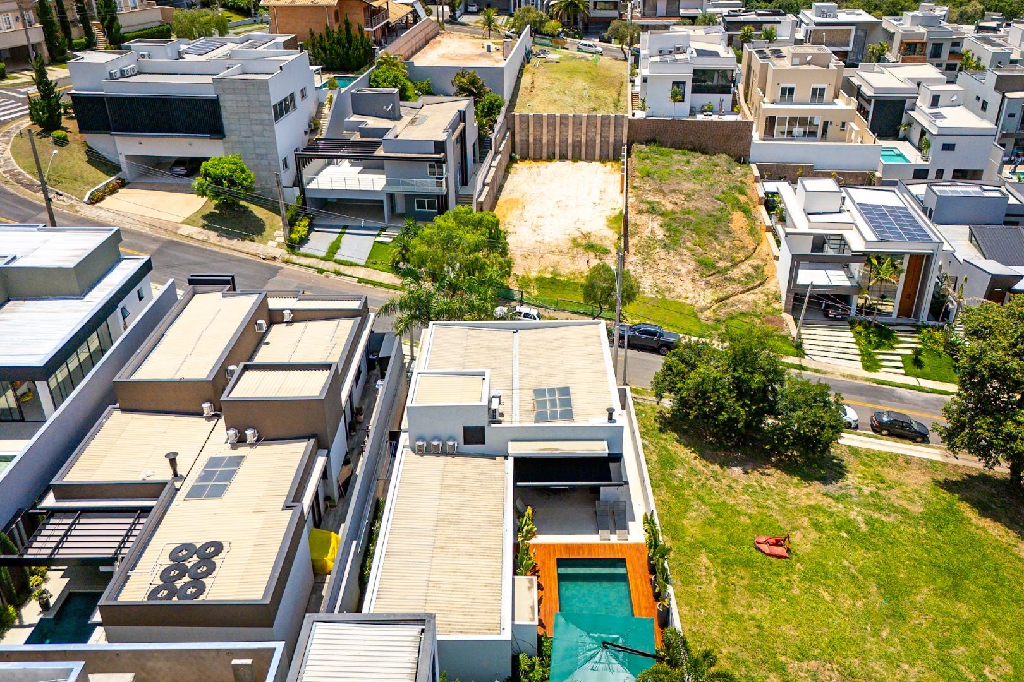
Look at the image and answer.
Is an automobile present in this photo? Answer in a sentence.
Yes, there's an automobile here.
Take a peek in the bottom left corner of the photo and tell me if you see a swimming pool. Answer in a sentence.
Yes, you'll find a swimming pool in the bottom left corner of the photo.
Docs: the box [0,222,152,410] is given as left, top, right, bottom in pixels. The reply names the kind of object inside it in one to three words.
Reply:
house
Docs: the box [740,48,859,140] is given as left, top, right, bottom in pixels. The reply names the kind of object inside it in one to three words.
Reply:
house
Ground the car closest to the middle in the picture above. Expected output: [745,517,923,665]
[496,298,540,319]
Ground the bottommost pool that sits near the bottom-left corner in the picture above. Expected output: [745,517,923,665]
[12,581,111,646]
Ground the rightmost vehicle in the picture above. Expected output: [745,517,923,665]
[867,410,936,444]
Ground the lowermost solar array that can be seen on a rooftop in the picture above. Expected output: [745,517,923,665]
[857,202,933,241]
